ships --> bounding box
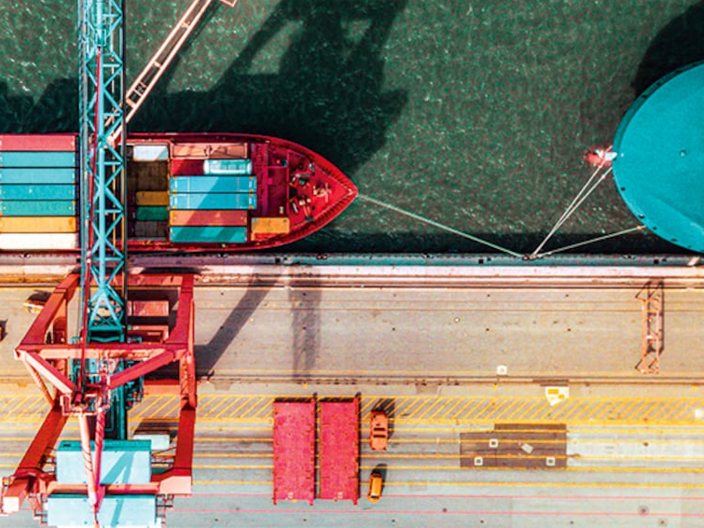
[591,63,704,249]
[0,0,358,251]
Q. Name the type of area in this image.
port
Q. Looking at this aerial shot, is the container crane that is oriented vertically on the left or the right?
left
